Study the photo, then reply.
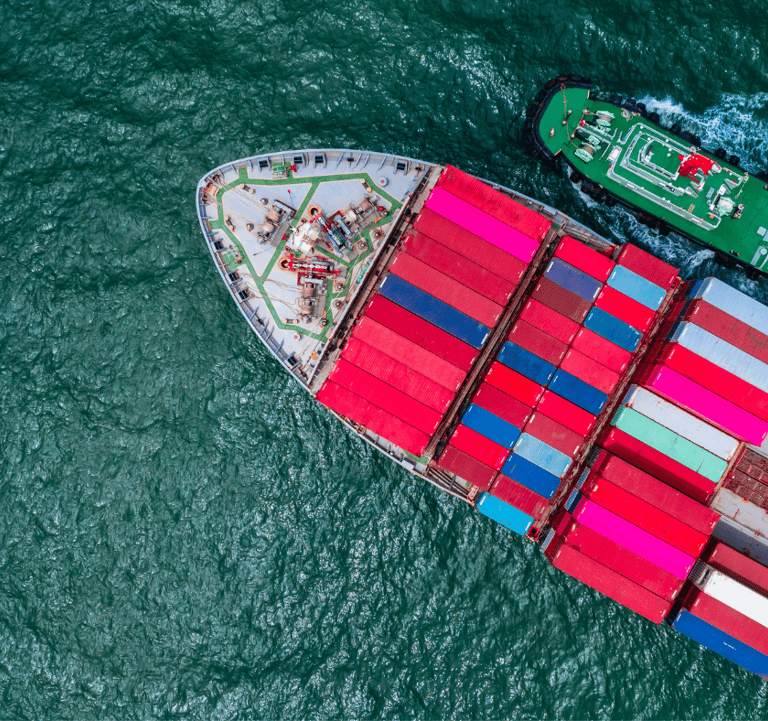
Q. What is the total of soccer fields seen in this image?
0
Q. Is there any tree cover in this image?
No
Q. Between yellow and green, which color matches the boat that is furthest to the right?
green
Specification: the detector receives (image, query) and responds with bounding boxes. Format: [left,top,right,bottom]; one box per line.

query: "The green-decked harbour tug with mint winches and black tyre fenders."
[521,75,768,281]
